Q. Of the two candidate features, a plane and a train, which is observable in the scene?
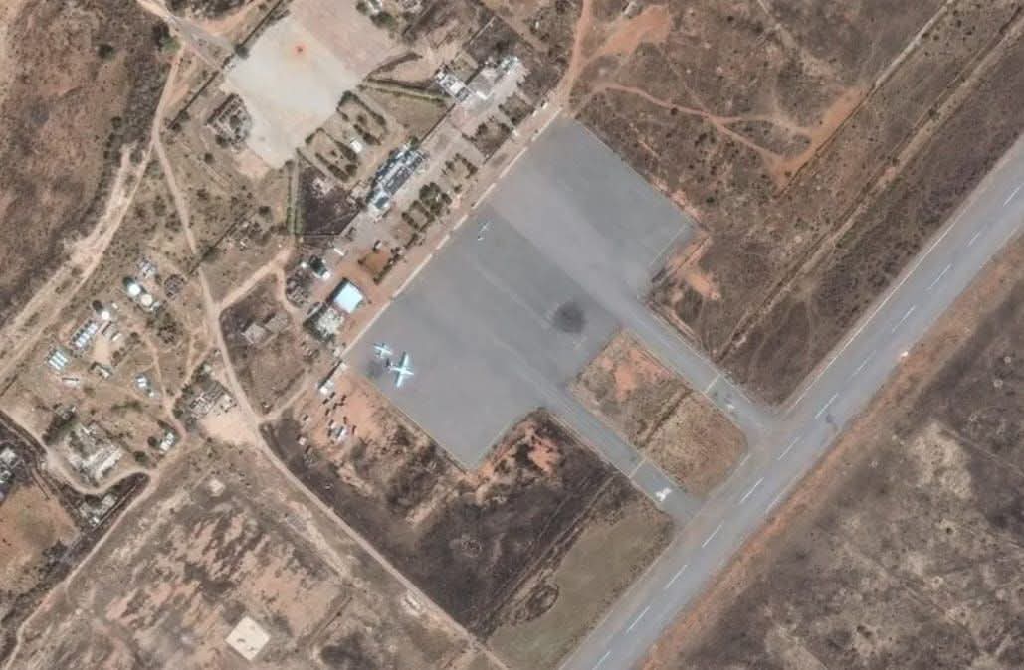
plane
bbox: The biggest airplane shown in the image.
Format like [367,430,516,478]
[388,354,414,387]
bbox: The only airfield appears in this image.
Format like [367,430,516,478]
[344,112,1024,670]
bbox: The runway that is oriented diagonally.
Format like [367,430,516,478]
[559,144,1024,670]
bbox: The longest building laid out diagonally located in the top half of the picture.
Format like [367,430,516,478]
[369,145,427,213]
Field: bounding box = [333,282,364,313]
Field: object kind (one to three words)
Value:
hangar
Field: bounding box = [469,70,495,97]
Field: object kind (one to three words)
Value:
building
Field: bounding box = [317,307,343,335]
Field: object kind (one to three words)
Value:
building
